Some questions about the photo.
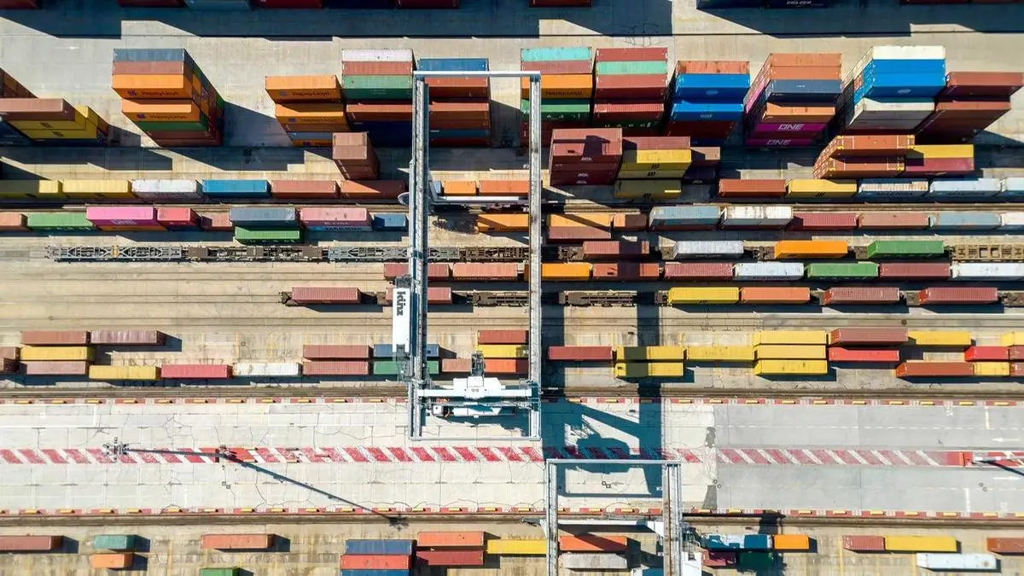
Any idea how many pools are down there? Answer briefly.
zero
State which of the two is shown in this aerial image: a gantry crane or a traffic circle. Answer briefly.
gantry crane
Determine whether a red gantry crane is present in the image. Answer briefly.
No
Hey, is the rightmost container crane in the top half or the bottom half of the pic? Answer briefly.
bottom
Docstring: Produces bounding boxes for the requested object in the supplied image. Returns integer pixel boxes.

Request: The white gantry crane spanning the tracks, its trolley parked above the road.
[392,70,543,441]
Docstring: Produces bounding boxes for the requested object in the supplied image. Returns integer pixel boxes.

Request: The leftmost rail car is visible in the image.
[46,246,183,260]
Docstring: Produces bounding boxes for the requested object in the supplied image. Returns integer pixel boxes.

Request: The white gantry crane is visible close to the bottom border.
[534,460,701,576]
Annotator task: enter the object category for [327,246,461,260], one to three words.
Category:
rail car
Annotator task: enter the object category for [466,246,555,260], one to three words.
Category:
rail car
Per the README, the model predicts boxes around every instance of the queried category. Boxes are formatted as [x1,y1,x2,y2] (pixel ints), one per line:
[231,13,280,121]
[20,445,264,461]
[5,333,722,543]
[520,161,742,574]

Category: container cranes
[392,70,543,441]
[534,460,701,576]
